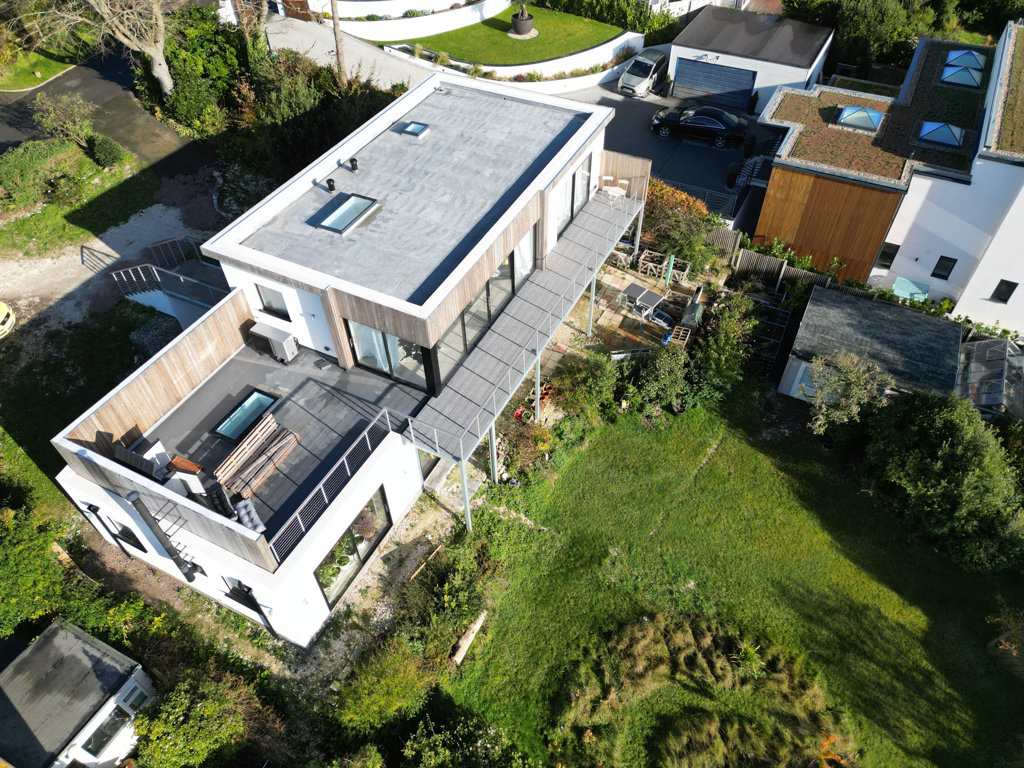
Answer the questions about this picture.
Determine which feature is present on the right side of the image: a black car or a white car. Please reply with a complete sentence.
The feature located on the right side of the image is a black car.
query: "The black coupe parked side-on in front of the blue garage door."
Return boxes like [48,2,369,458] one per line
[652,103,758,147]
